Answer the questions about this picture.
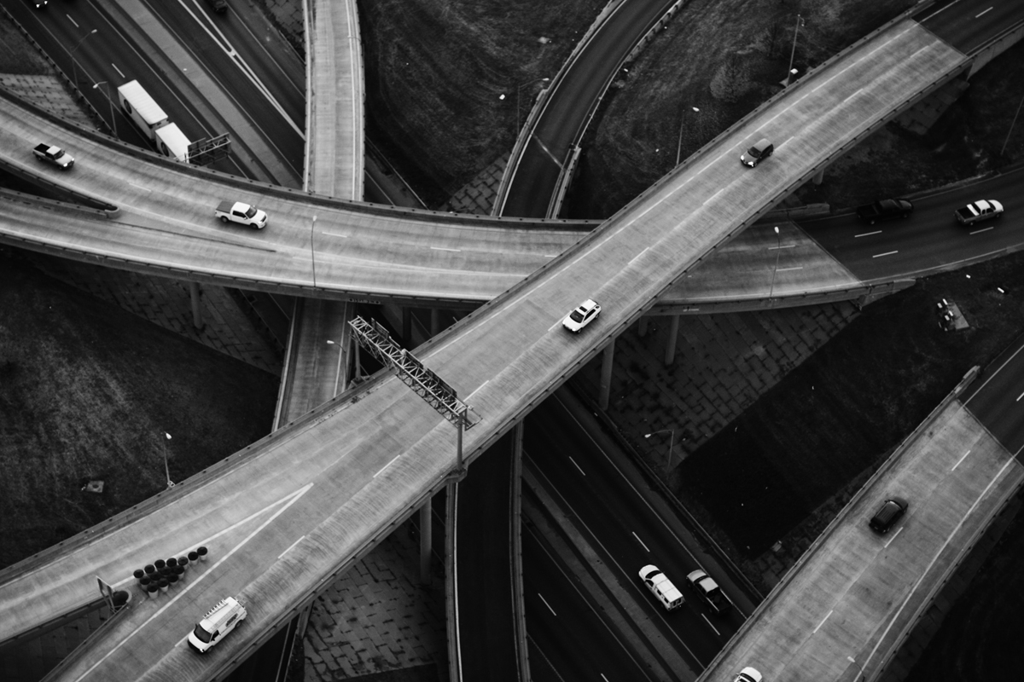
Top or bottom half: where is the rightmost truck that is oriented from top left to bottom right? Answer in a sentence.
The rightmost truck that is oriented from top left to bottom right is in the bottom half of the image.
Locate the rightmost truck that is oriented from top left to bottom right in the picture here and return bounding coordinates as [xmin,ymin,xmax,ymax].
[687,570,732,617]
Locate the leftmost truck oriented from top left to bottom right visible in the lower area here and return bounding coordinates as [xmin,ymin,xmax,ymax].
[638,565,685,614]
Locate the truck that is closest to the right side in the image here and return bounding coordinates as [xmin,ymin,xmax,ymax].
[954,201,1002,226]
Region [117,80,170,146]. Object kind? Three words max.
trailer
